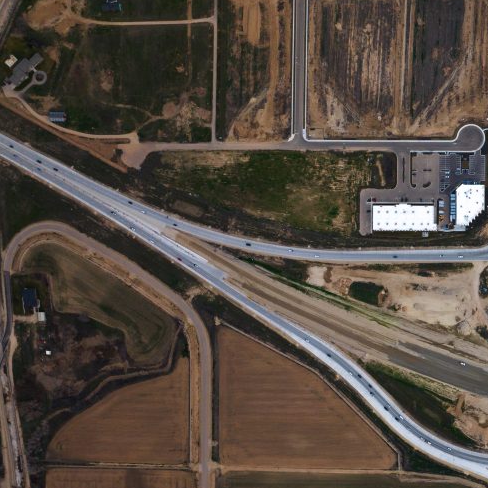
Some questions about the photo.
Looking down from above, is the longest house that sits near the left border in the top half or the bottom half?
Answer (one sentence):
Seen from above, the longest house that sits near the left border lies in the top half of the view.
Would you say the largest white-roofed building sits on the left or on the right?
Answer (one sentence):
The largest white-roofed building appears in the right half of the scene.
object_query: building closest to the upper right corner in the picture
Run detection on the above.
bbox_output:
[456,183,484,226]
